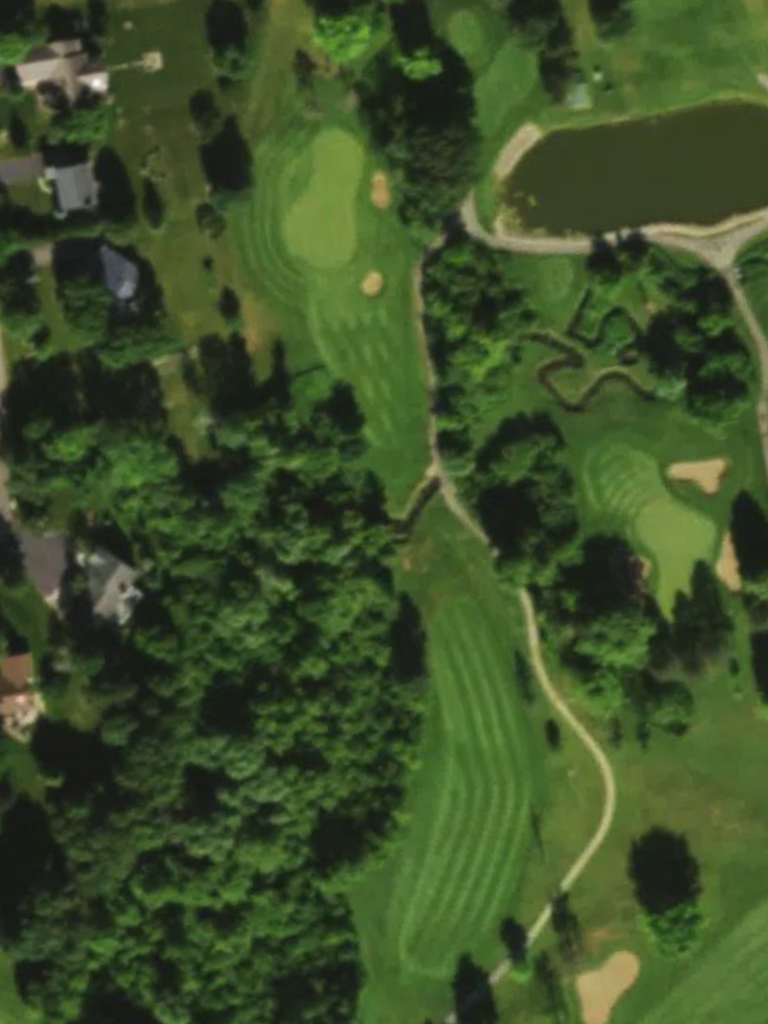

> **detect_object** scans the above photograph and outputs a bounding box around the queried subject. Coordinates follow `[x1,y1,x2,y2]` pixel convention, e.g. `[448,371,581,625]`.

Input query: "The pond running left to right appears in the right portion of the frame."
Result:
[501,102,768,234]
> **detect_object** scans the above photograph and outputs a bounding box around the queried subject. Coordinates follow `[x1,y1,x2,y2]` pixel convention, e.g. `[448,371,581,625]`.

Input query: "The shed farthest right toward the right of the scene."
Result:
[570,83,589,108]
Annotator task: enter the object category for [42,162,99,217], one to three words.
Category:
house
